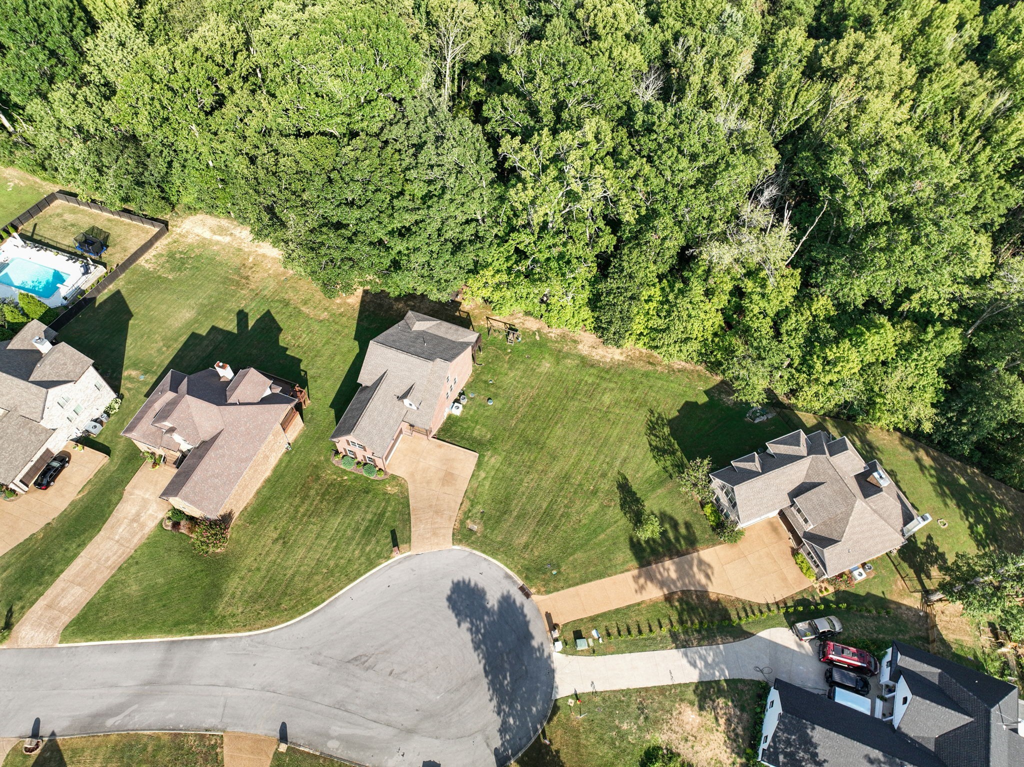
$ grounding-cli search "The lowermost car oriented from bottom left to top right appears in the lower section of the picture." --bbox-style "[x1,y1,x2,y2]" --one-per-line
[31,455,72,492]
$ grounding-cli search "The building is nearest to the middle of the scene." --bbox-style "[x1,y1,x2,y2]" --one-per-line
[329,310,482,471]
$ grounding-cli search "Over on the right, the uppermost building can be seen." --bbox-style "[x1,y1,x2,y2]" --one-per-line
[707,429,934,587]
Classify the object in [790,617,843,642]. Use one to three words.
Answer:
truck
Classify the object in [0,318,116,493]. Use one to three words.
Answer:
house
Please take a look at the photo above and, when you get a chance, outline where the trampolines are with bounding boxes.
[70,234,108,263]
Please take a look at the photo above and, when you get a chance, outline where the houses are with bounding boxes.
[758,640,1024,767]
[120,360,309,527]
[707,429,934,587]
[329,310,482,471]
[0,318,116,493]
